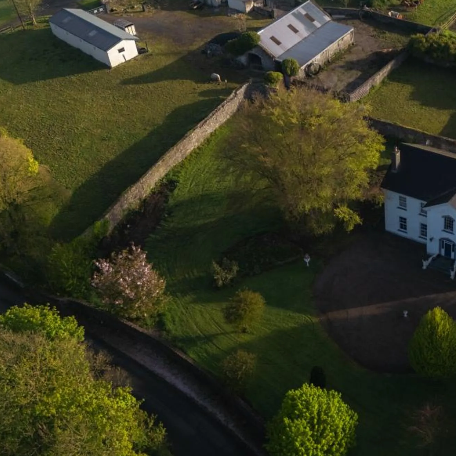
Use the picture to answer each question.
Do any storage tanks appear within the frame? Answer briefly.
No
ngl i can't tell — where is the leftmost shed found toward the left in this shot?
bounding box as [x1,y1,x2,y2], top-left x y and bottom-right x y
[43,13,142,68]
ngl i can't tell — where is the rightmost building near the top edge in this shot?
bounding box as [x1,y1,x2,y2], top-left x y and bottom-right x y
[240,0,356,80]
